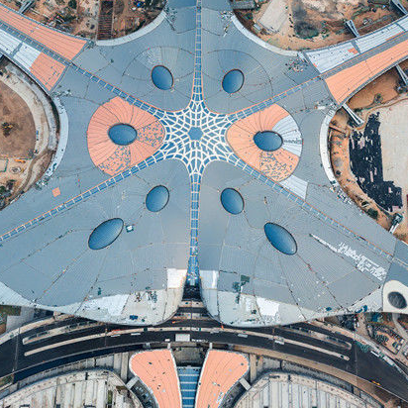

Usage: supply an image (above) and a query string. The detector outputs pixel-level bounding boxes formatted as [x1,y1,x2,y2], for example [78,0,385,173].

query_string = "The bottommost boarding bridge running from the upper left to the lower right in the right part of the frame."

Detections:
[342,101,367,129]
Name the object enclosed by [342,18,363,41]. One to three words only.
jet bridge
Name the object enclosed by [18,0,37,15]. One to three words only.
jet bridge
